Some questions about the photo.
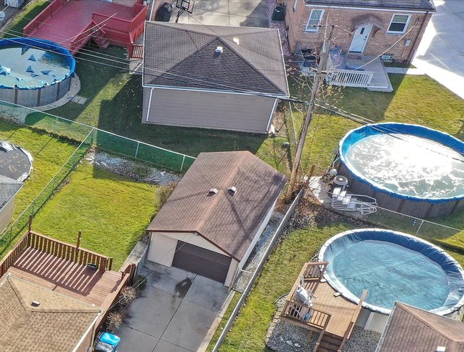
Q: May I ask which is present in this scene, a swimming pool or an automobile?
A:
swimming pool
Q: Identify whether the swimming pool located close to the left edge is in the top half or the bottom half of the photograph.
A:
top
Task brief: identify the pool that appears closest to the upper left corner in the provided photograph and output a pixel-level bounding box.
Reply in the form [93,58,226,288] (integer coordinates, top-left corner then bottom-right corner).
[0,37,81,106]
